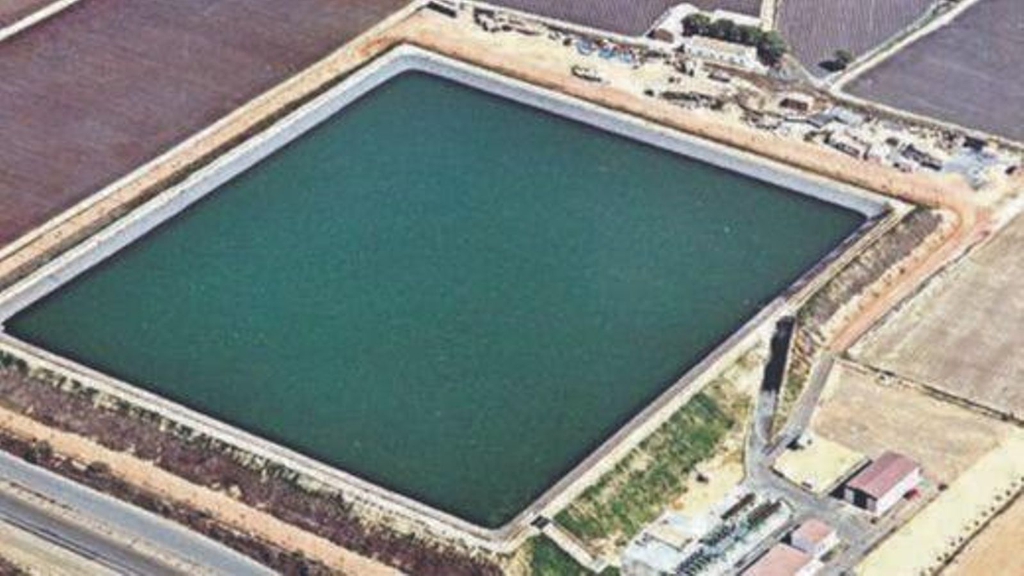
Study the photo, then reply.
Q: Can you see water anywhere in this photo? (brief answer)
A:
Yes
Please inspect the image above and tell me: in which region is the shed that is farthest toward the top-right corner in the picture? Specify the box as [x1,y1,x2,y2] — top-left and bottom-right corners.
[967,133,994,153]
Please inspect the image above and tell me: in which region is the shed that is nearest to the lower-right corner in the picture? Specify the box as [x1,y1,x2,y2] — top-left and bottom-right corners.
[841,450,925,517]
